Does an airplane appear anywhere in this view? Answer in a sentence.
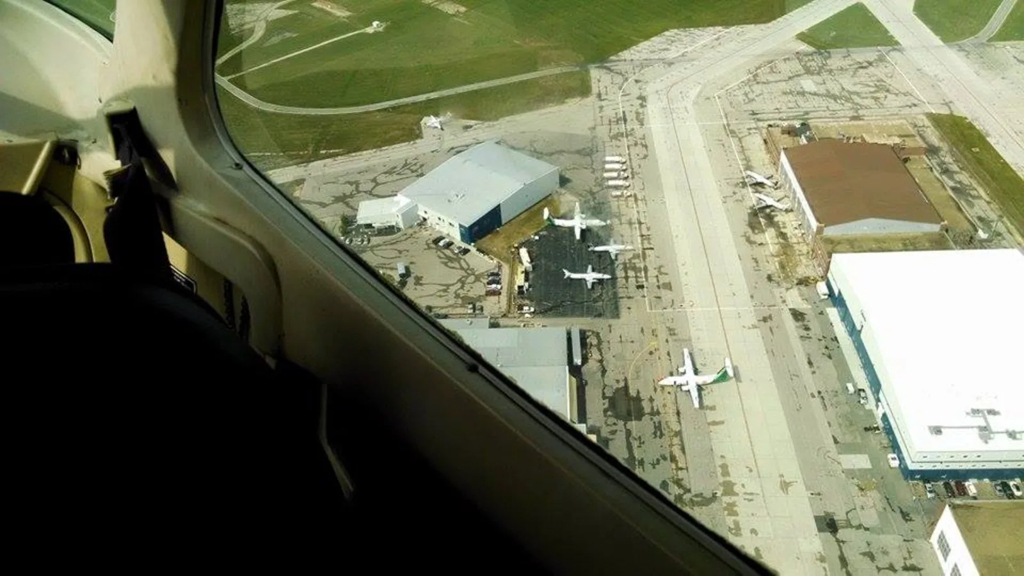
Yes, an airplane appears in the view.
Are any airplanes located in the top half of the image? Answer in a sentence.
Yes, looking in the top half of the image, one can make out an airplane.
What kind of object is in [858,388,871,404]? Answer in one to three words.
vehicle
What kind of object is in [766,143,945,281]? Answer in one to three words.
hangar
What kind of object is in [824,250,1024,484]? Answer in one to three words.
hangar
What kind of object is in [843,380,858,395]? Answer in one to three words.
vehicle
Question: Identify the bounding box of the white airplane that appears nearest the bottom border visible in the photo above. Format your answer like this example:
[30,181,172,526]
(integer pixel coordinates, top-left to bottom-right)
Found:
[660,348,736,407]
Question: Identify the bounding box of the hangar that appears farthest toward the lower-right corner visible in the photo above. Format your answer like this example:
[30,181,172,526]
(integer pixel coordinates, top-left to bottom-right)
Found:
[931,502,1024,576]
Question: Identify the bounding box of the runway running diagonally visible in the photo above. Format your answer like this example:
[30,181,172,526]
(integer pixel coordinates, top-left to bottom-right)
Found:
[861,0,1024,182]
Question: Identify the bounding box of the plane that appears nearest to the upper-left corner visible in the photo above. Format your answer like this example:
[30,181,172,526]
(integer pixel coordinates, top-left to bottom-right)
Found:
[427,115,449,128]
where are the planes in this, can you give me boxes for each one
[427,115,449,128]
[745,169,776,188]
[561,262,611,291]
[587,236,636,263]
[545,202,606,239]
[753,191,785,210]
[660,348,736,407]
